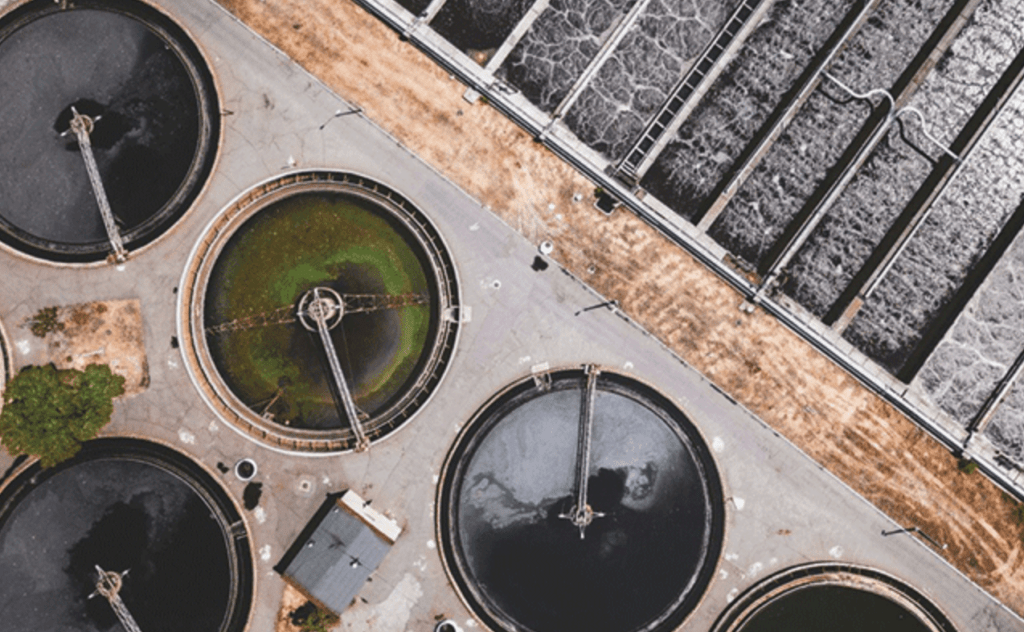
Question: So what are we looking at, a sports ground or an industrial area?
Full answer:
The picture captures an industrial area.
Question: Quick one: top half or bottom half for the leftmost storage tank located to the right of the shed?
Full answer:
You can find the leftmost storage tank located to the right of the shed in the bottom half.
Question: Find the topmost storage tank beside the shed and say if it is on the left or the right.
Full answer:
The topmost storage tank beside the shed sits on the left side.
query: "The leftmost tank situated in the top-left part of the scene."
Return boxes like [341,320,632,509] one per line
[0,0,221,267]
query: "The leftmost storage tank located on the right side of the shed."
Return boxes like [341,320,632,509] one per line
[435,364,728,632]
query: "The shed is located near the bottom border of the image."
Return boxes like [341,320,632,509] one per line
[282,491,400,617]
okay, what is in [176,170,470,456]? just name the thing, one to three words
storage tank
